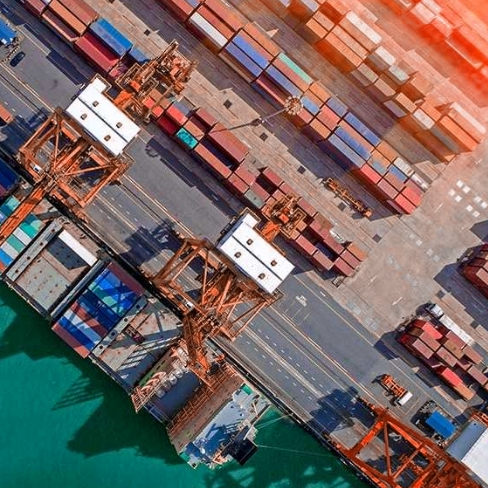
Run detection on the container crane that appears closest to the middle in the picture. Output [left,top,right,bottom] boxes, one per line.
[141,177,335,390]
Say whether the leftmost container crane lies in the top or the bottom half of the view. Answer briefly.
top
